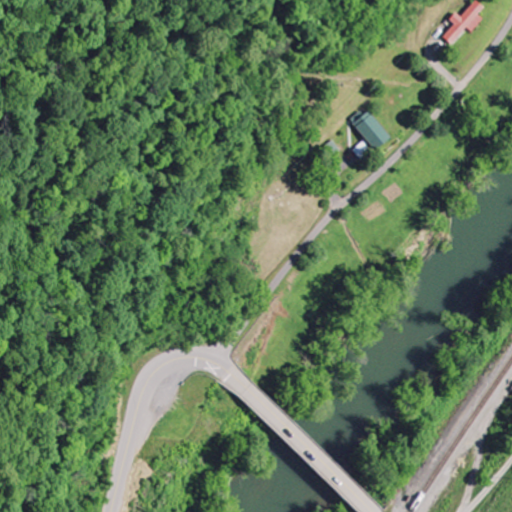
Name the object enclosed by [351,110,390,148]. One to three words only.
building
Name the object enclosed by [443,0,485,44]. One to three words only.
house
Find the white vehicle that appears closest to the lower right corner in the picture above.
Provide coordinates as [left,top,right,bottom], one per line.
[412,490,426,509]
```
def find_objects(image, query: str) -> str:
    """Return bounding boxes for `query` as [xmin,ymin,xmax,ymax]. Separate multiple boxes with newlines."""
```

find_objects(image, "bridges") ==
[214,362,380,512]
